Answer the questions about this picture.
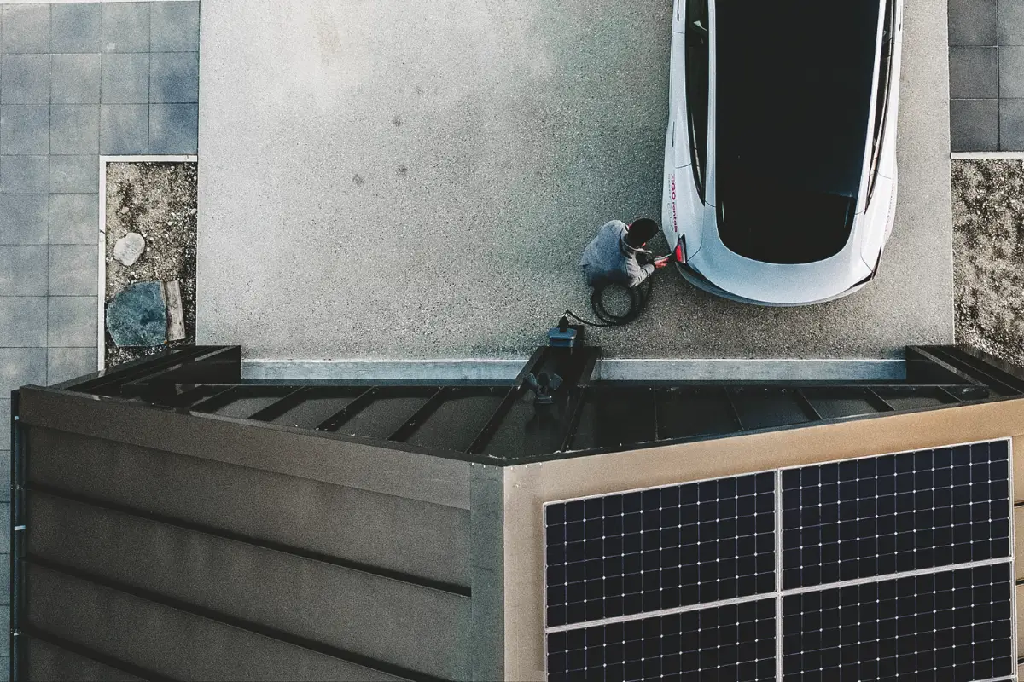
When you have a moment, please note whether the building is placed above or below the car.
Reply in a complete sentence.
The building is located below the car in this view.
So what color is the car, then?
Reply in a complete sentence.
The car looks black in the image.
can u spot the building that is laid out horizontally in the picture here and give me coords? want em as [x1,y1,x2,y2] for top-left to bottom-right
[4,348,1024,682]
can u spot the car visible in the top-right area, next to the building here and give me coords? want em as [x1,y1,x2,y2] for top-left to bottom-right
[663,0,903,307]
